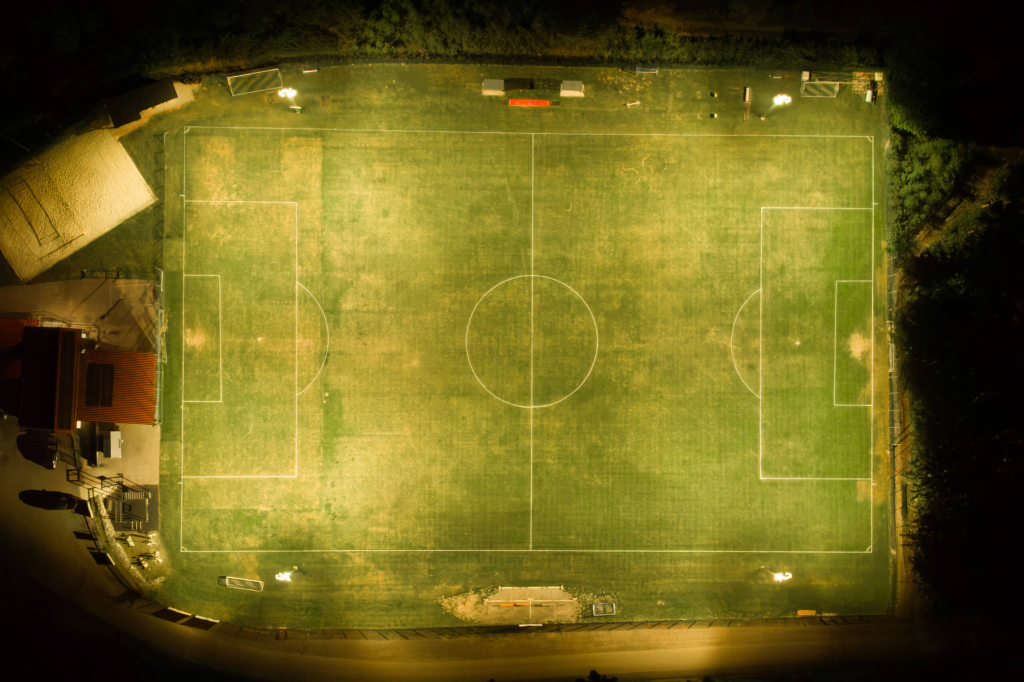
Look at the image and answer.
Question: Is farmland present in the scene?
No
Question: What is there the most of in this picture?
grass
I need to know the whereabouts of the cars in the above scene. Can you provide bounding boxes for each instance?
[44,494,75,509]
[41,437,58,469]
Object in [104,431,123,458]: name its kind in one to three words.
shed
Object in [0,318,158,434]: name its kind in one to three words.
building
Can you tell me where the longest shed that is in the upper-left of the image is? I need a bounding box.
[107,79,179,129]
